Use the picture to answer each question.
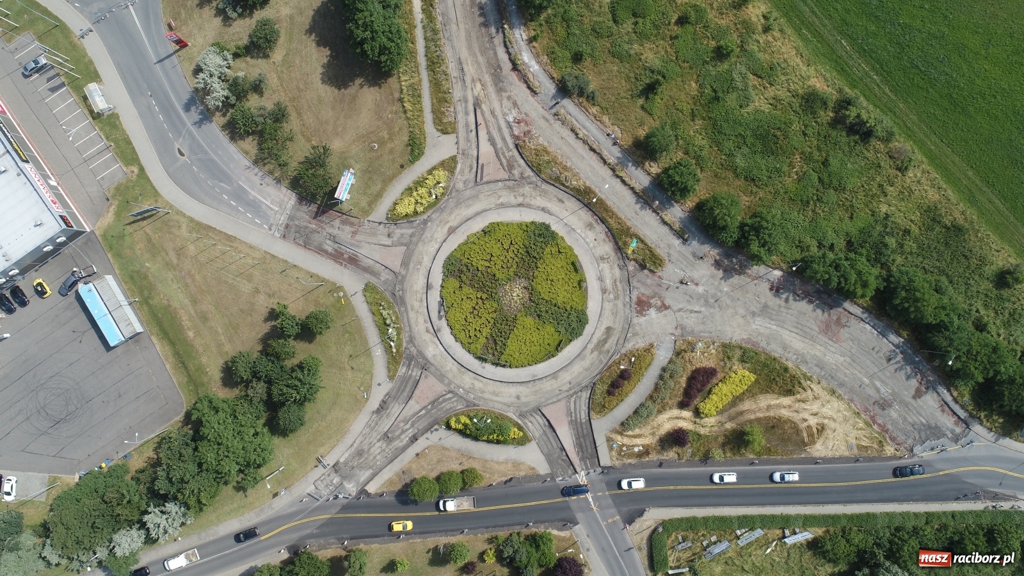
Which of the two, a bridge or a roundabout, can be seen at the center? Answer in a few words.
roundabout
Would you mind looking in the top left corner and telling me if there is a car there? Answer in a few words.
Yes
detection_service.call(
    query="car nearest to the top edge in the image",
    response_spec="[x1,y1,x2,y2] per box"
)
[23,57,47,76]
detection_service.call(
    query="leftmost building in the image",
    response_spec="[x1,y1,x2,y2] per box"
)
[0,100,92,293]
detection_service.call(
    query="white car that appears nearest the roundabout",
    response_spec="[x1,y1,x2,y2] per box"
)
[620,478,644,491]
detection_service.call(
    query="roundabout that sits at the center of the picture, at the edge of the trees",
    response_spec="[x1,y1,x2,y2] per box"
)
[329,106,631,473]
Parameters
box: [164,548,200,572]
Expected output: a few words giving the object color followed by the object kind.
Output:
white truck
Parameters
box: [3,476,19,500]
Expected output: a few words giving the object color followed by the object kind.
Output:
white car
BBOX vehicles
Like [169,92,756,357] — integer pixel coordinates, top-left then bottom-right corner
[3,476,19,500]
[771,471,798,483]
[712,472,737,483]
[10,284,31,307]
[620,478,644,491]
[894,464,922,478]
[23,57,47,76]
[164,548,200,572]
[0,472,5,494]
[236,525,260,541]
[390,520,413,532]
[439,498,476,513]
[562,484,588,495]
[35,277,52,298]
[60,272,79,296]
[0,290,19,313]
